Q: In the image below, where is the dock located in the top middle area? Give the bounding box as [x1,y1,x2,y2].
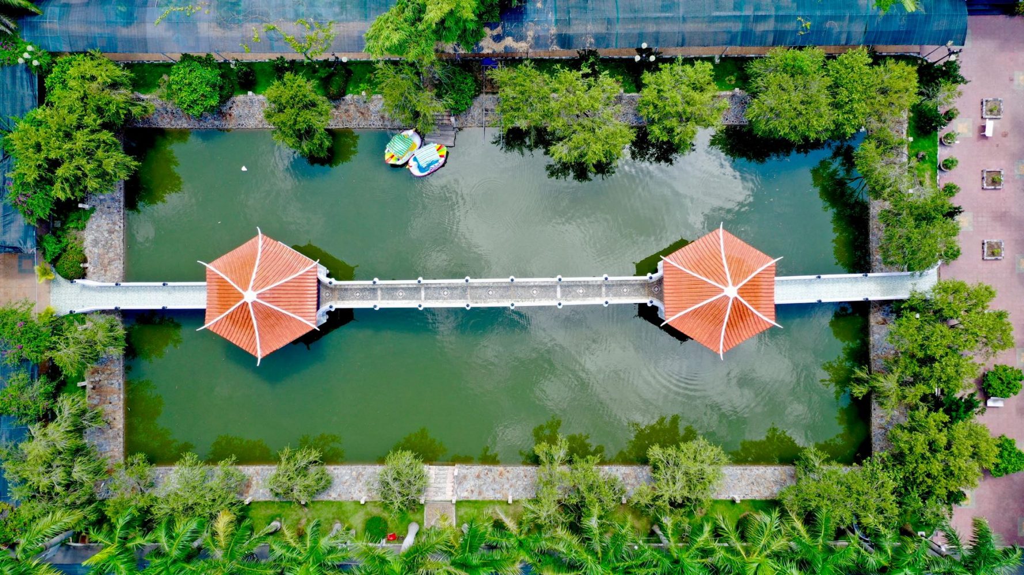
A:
[425,124,456,148]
